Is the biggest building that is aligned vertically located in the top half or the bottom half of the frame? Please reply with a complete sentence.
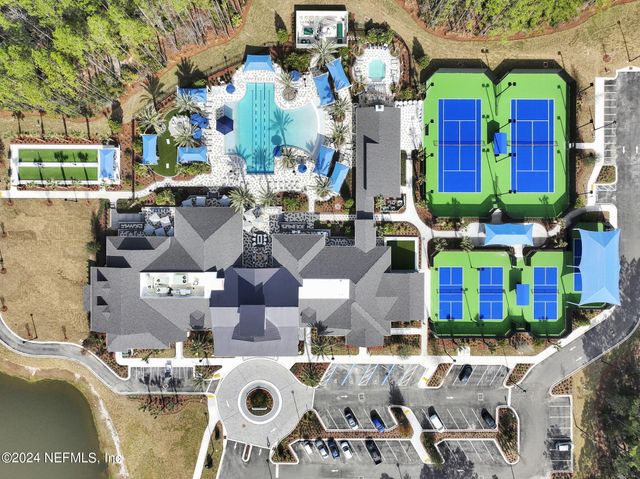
It is in the top half that the biggest building that is aligned vertically appears.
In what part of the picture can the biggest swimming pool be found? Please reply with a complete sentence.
The biggest swimming pool is located in the top region of the scene.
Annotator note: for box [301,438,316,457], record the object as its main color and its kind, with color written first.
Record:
white car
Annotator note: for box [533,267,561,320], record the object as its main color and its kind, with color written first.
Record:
blue sports court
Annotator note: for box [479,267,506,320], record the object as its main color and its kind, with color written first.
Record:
blue sports court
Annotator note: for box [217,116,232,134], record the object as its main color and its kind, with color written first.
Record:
blue umbrella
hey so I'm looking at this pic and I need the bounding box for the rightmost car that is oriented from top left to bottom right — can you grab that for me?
[481,409,495,428]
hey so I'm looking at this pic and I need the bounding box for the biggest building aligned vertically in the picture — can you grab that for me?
[356,105,401,212]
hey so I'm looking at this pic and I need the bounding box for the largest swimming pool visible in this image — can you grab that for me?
[224,82,320,174]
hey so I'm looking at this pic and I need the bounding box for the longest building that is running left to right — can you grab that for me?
[84,207,424,356]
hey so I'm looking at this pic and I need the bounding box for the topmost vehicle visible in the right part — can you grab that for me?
[458,363,472,382]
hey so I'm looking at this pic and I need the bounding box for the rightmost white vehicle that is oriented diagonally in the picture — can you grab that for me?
[428,411,443,431]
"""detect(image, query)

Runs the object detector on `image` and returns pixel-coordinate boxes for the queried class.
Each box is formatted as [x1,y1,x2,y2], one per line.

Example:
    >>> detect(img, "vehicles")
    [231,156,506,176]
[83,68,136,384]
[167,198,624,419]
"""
[366,442,382,465]
[428,411,443,431]
[339,441,354,460]
[344,411,359,430]
[301,438,316,457]
[371,414,385,433]
[550,441,569,452]
[481,409,495,428]
[326,440,341,458]
[458,363,472,382]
